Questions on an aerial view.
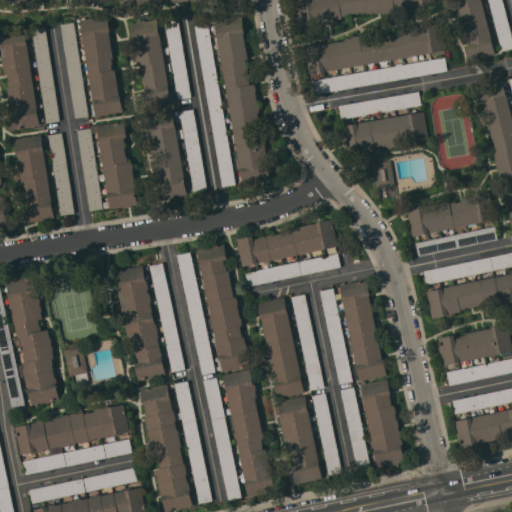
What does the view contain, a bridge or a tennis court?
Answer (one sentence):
The image shows a tennis court.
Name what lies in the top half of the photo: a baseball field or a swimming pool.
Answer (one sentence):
Visible in the top half of the photo is a swimming pool.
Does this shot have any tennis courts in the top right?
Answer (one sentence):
Yes, there is a tennis court in the top right.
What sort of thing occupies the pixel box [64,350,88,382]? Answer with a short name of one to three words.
building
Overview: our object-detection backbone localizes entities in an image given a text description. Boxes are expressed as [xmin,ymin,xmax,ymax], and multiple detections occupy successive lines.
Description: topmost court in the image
[432,94,476,168]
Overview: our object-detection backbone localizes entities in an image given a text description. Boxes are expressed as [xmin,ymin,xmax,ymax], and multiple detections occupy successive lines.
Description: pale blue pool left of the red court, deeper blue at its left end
[393,152,435,193]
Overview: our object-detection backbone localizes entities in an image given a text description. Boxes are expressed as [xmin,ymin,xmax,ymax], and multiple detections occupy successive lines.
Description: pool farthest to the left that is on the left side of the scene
[88,340,125,385]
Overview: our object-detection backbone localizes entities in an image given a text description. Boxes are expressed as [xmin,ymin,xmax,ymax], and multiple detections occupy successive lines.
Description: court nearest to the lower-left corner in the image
[55,285,98,340]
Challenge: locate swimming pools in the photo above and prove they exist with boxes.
[393,152,435,193]
[88,340,125,385]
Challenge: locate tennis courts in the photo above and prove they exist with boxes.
[55,285,98,340]
[432,94,476,168]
